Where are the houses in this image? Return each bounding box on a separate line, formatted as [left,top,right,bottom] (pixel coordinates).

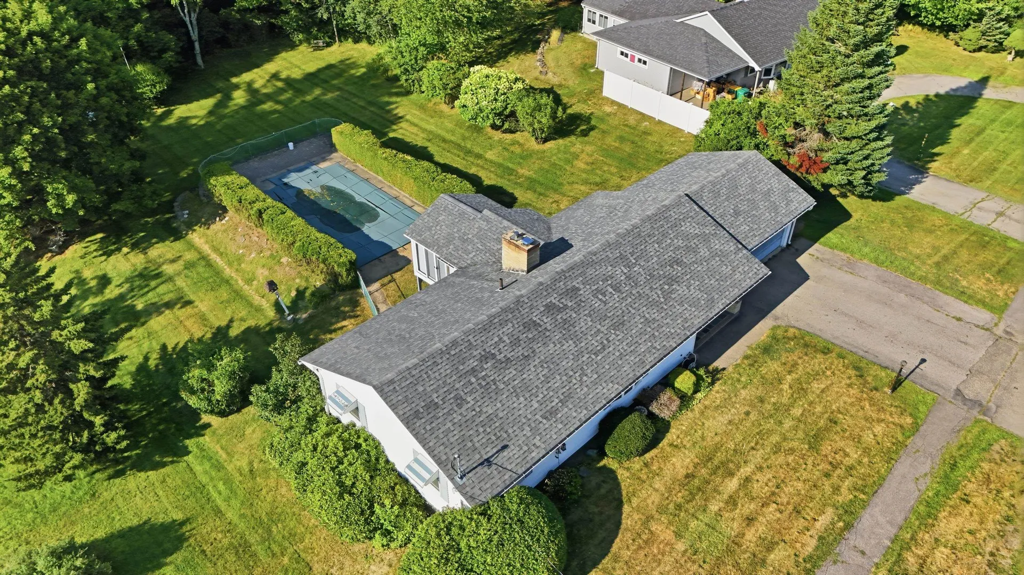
[299,153,817,515]
[578,0,829,111]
